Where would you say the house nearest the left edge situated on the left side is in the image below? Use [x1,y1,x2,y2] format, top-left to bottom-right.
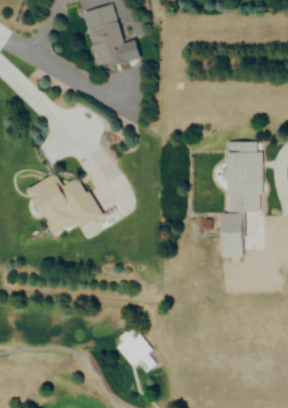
[28,174,104,235]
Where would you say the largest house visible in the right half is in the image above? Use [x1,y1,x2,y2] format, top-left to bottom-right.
[226,142,264,212]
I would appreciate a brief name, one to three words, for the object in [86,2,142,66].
house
